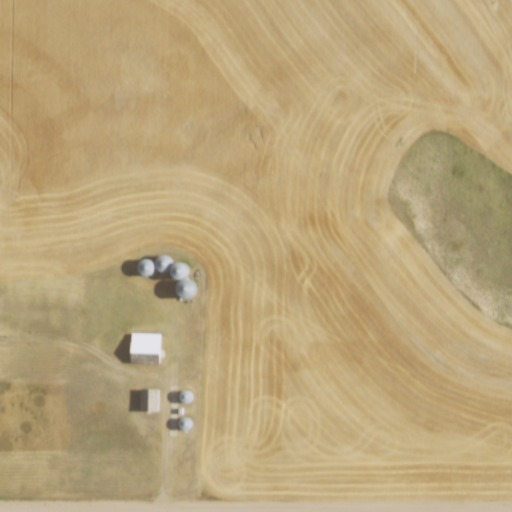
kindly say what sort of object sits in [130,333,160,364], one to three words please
barn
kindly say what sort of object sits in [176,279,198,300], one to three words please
silo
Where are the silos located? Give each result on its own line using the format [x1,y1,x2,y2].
[176,279,198,300]
[180,390,196,404]
[155,255,174,272]
[138,259,156,276]
[179,416,194,434]
[170,262,190,280]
